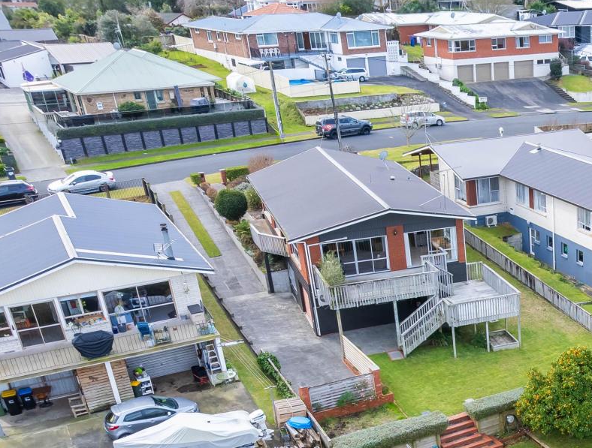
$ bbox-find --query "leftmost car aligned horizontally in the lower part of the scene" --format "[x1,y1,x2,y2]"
[86,394,201,447]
